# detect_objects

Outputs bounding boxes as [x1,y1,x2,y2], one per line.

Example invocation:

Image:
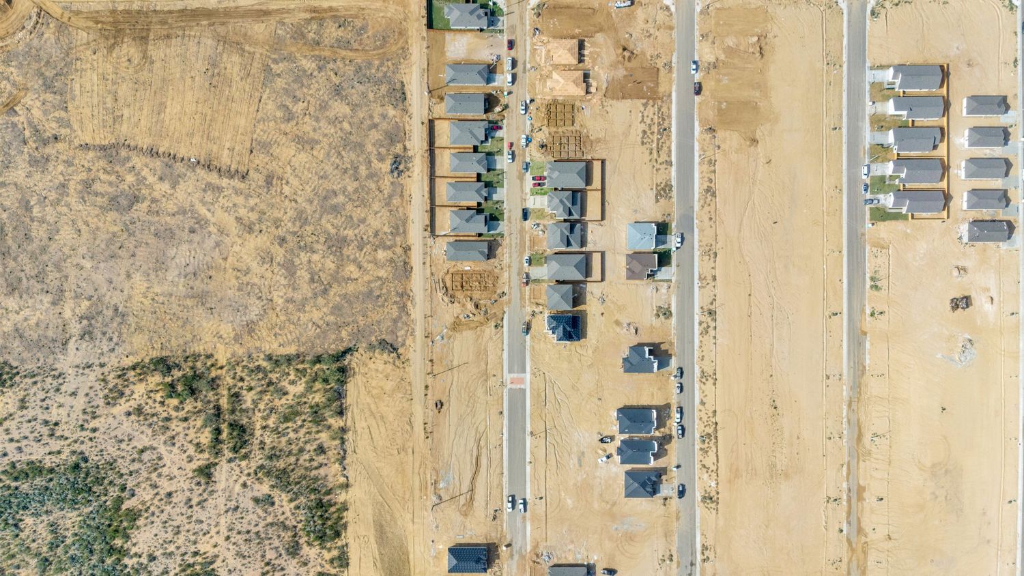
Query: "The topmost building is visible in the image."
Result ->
[444,3,490,30]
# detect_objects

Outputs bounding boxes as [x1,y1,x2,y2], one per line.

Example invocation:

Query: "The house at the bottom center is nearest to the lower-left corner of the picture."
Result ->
[448,544,488,573]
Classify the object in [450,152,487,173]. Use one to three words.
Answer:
house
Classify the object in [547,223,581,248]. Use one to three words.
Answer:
house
